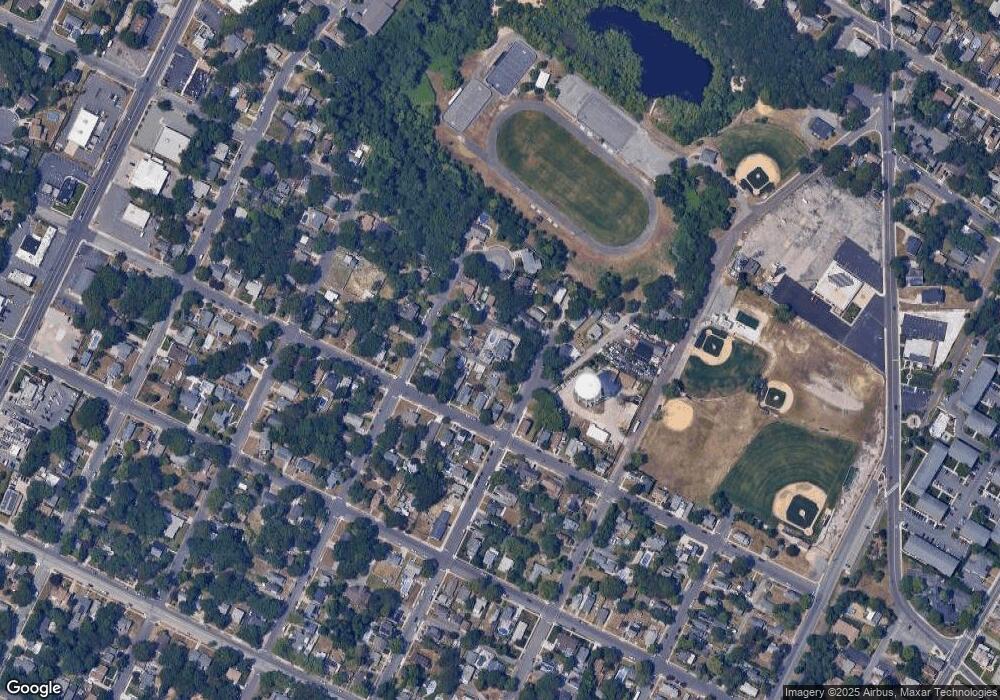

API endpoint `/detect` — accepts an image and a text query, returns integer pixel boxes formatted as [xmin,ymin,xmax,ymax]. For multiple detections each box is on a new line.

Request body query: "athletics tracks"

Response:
[486,99,658,258]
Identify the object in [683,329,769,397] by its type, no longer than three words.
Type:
baseball field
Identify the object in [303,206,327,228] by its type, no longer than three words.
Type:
house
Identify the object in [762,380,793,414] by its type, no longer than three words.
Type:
baseball field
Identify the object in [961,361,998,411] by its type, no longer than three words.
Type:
building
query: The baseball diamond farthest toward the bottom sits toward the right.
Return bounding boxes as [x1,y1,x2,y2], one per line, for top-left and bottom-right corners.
[714,420,858,539]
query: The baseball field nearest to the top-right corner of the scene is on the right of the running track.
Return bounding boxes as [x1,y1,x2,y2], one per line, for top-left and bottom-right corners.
[721,117,809,206]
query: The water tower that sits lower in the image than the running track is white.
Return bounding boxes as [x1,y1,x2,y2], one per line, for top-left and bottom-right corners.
[573,373,609,412]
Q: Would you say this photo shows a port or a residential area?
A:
residential area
